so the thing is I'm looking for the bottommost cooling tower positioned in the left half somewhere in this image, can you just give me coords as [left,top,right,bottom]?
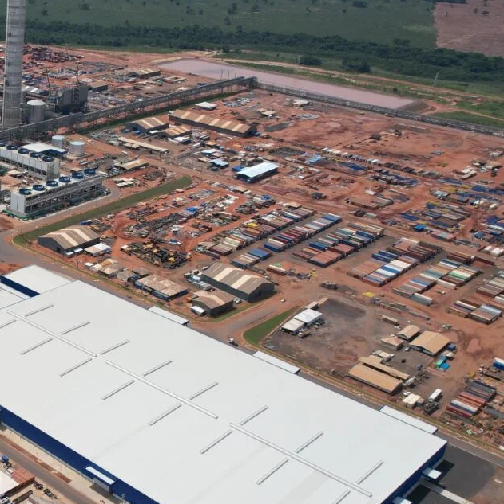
[7,167,110,216]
